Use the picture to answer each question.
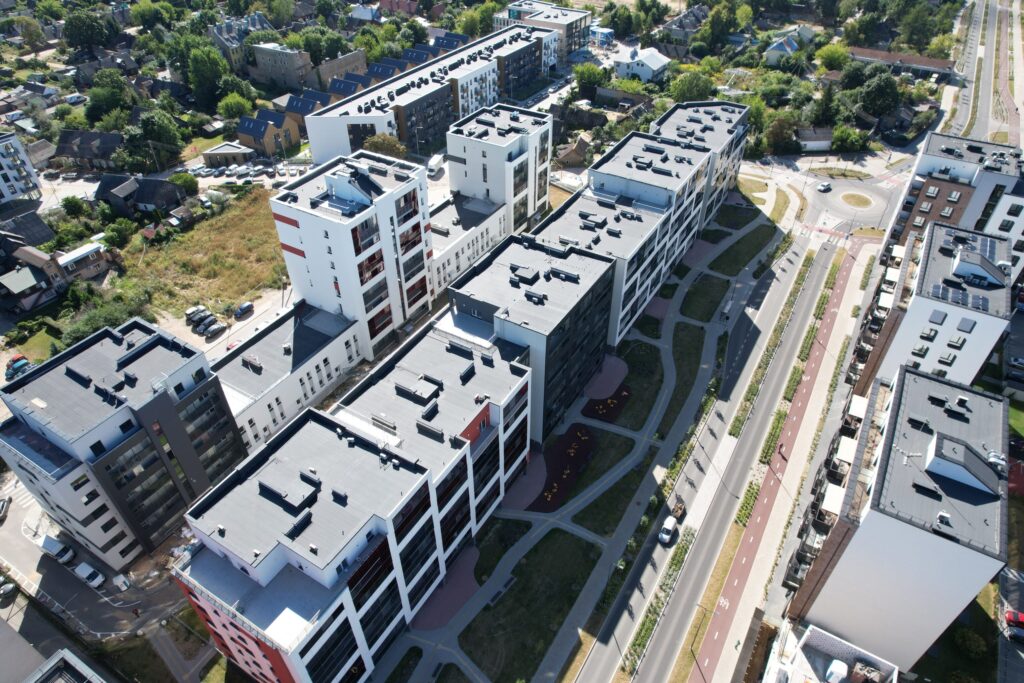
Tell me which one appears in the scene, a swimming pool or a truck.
truck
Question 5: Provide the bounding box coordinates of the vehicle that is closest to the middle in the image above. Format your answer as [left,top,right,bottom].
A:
[427,152,441,172]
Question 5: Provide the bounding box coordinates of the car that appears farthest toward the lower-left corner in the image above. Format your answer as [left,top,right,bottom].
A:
[0,572,28,606]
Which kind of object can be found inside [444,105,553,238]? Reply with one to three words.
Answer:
building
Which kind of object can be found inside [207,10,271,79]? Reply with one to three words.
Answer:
building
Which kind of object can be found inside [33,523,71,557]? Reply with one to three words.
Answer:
truck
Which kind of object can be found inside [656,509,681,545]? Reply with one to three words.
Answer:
car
